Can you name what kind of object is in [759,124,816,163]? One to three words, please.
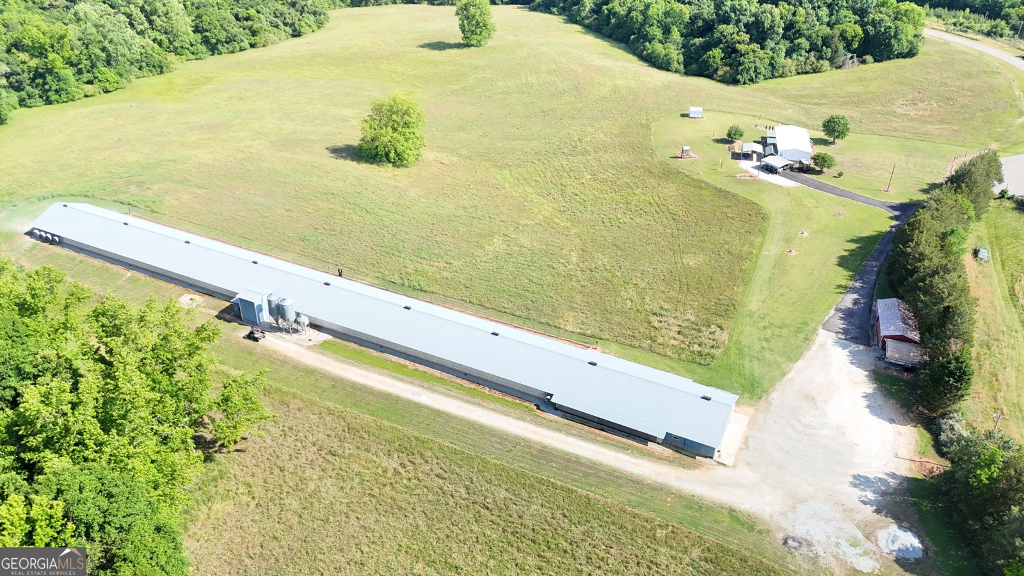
house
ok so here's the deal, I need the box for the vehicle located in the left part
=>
[246,326,265,339]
